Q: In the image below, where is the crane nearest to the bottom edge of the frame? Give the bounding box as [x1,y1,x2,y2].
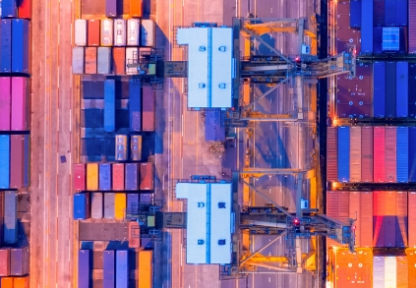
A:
[116,144,370,285]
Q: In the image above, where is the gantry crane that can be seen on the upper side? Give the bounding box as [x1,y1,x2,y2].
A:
[116,3,370,145]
